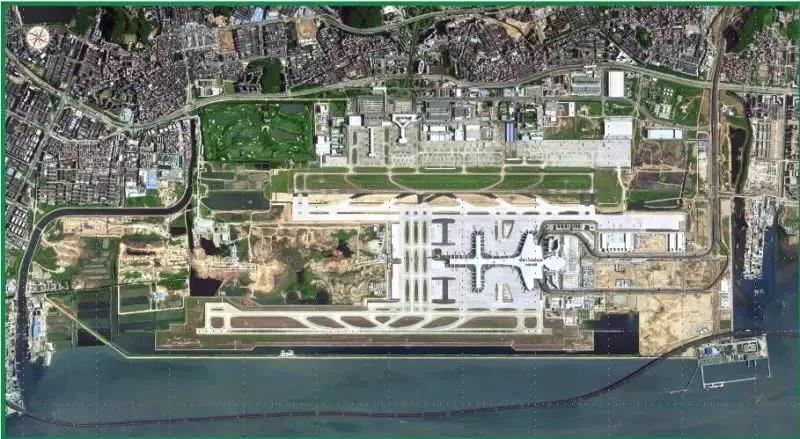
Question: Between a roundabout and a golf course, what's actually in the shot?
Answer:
golf course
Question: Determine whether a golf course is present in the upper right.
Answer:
No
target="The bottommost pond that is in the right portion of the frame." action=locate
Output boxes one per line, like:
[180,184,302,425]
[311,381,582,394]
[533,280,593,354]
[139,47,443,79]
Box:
[594,312,638,354]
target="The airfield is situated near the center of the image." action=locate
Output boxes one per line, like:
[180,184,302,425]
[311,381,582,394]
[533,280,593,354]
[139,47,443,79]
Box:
[155,114,684,352]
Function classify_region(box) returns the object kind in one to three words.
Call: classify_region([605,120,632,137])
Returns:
building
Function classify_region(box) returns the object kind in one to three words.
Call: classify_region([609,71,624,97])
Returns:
building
